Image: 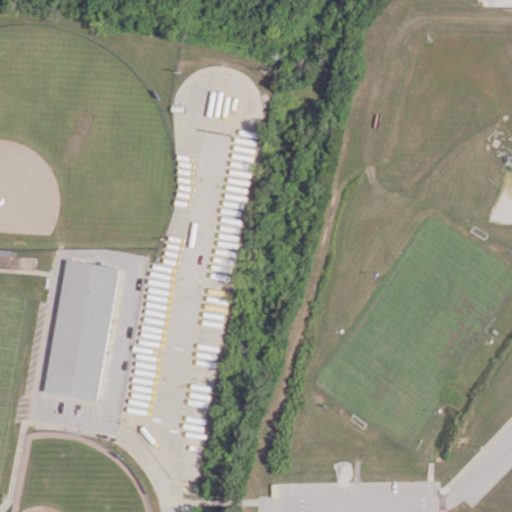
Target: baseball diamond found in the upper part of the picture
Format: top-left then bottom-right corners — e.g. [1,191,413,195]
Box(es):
[0,26,173,248]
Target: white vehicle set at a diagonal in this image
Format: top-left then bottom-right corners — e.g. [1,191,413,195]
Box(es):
[140,426,158,448]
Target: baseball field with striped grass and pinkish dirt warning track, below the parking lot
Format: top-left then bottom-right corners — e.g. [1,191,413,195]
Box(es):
[13,432,150,512]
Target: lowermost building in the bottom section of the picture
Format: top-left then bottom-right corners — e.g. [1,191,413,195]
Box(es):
[44,260,120,401]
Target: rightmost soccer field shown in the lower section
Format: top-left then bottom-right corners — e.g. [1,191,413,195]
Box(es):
[322,220,512,444]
